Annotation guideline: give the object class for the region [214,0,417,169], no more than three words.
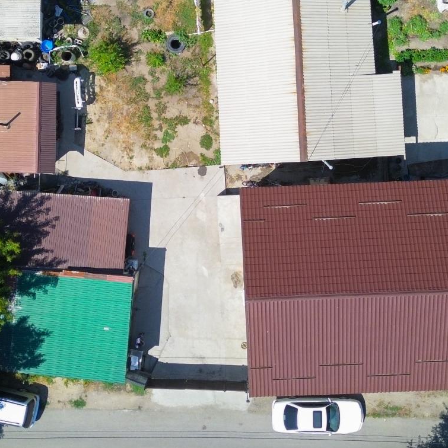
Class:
house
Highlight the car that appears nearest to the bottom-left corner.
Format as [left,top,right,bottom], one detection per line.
[0,385,37,429]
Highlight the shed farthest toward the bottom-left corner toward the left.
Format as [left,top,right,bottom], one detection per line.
[0,267,144,383]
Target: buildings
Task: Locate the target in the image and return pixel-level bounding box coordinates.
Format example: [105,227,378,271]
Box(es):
[0,0,51,44]
[0,267,144,383]
[214,0,417,169]
[0,80,61,175]
[238,179,448,397]
[0,191,131,269]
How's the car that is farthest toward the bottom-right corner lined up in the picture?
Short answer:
from side to side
